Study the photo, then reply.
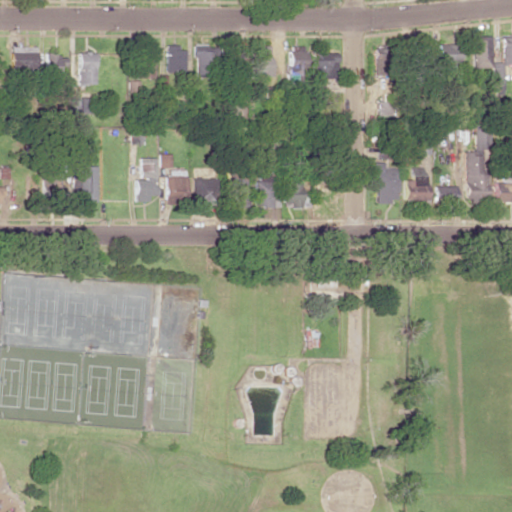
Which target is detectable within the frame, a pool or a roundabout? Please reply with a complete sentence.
It is a pool that can be seen here.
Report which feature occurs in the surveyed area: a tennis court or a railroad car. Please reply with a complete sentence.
The one in the frame is a tennis court.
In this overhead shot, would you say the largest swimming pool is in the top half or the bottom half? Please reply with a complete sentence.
You can find the largest swimming pool in the bottom half.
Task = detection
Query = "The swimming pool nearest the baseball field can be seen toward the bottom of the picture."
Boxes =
[236,366,294,443]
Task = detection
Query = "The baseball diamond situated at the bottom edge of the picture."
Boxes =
[320,470,376,512]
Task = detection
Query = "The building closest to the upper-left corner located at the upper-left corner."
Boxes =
[11,46,43,71]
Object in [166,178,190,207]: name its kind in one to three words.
house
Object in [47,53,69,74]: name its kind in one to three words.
house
